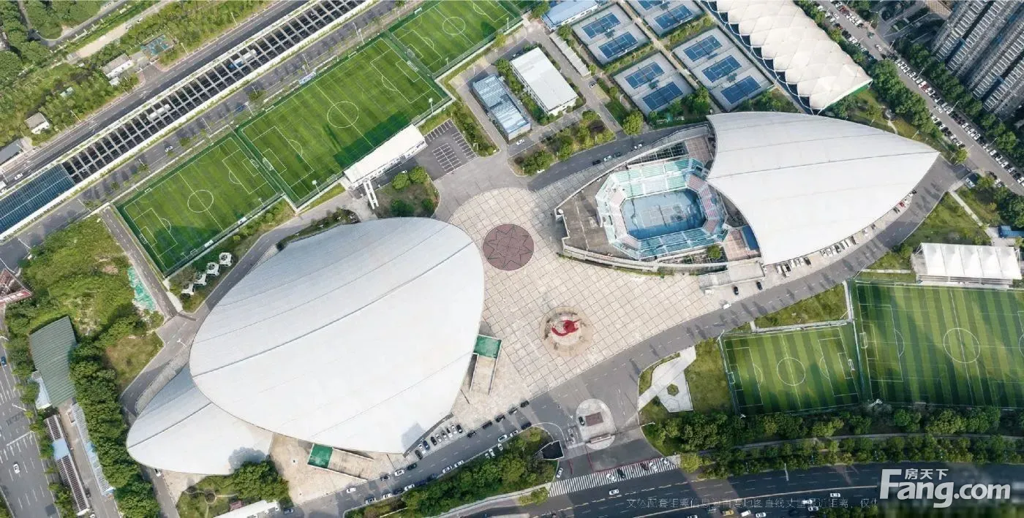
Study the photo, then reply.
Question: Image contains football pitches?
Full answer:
Yes, a football pitch can be made out from above.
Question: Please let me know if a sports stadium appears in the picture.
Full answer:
Yes, looking at the shot, I can spot a sports stadium.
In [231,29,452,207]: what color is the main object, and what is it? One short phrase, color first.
green soccer field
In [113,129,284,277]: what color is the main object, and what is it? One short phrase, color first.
green soccer field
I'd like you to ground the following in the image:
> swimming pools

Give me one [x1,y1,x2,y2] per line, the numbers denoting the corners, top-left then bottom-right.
[742,226,760,251]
